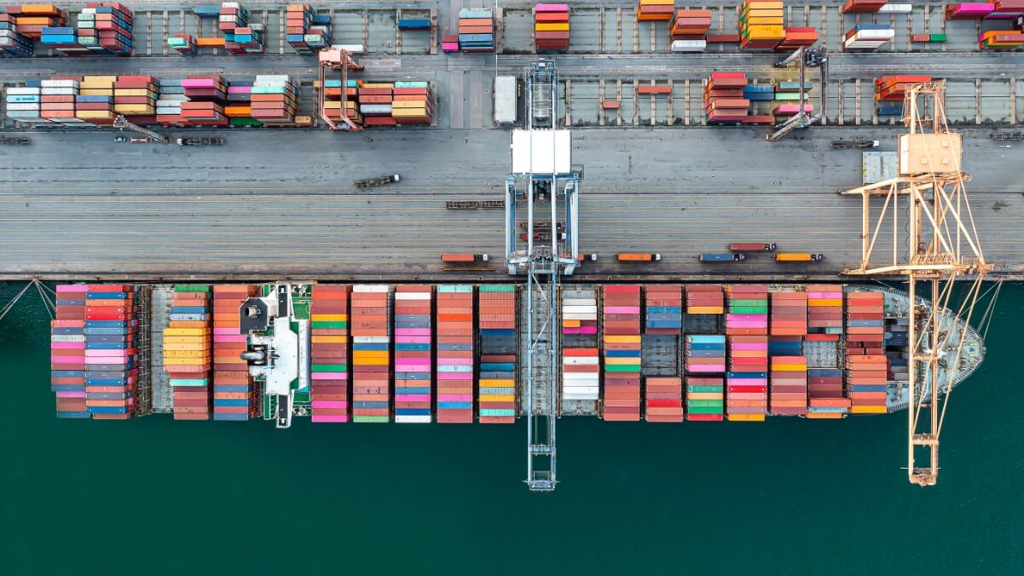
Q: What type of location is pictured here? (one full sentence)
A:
It's a port.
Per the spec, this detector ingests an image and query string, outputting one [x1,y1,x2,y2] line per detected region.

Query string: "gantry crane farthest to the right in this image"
[828,83,992,483]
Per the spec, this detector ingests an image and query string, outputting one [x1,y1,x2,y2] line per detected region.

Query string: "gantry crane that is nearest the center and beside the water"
[500,63,588,492]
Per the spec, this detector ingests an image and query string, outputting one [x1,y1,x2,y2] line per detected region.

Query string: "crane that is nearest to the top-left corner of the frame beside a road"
[318,47,366,129]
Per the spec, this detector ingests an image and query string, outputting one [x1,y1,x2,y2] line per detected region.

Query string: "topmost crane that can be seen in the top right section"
[770,46,829,129]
